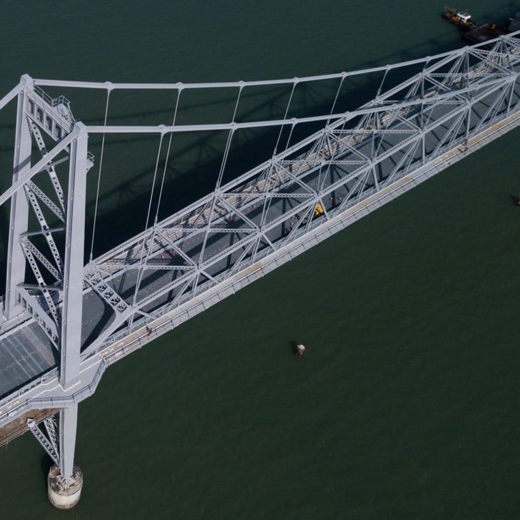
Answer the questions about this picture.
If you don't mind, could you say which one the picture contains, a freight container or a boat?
boat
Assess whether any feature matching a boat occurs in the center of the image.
No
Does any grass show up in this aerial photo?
No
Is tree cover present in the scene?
No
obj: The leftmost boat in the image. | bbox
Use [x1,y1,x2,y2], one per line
[444,1,480,26]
